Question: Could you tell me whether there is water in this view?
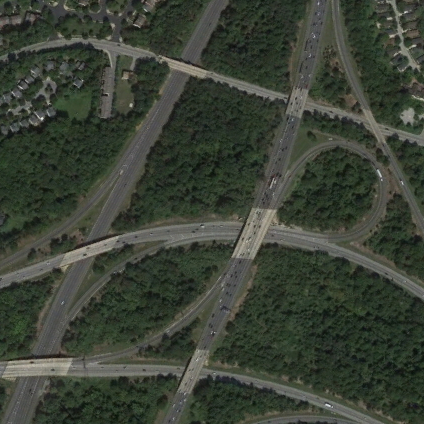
No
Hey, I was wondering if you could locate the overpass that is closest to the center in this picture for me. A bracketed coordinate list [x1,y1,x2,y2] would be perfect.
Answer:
[231,207,276,258]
